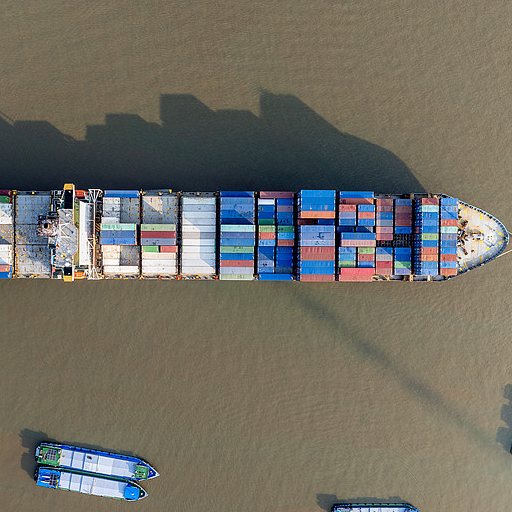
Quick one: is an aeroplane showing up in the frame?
No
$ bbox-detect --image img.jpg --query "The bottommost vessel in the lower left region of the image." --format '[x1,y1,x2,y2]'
[34,465,148,499]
